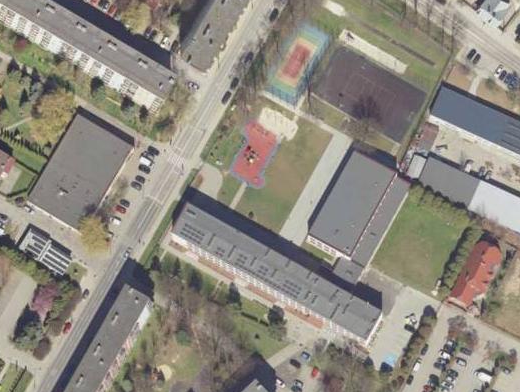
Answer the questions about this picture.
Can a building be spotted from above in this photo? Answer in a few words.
Yes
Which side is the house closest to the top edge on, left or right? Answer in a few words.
right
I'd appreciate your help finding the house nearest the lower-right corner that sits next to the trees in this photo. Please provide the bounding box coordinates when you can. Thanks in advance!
[448,240,506,315]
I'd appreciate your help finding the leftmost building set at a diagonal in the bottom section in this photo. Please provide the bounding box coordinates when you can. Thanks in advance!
[19,230,73,278]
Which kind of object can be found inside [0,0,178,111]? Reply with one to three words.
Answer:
building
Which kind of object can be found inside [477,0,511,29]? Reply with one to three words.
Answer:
house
